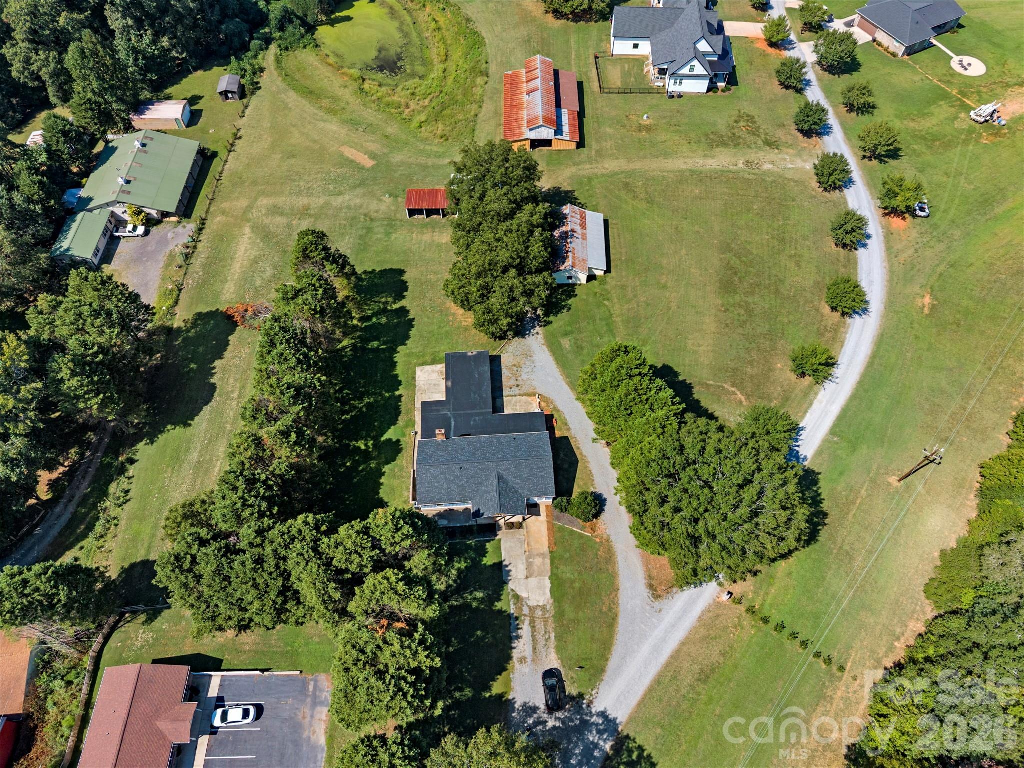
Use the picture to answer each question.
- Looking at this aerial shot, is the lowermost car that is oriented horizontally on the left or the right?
left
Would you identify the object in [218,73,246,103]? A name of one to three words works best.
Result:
shed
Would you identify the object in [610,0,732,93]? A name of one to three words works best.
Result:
house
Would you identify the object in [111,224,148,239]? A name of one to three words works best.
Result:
vehicle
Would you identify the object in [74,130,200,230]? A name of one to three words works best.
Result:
barn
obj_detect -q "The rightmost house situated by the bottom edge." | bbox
[77,663,205,768]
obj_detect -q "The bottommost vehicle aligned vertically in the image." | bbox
[543,668,563,713]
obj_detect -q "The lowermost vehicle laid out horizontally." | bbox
[212,705,257,728]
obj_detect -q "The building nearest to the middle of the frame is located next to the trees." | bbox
[414,350,555,525]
